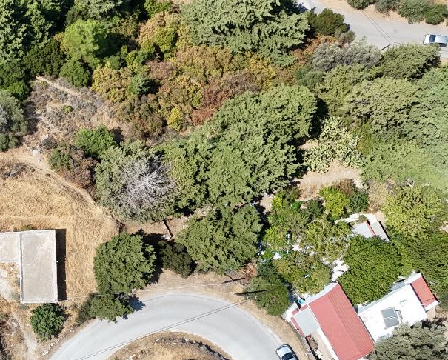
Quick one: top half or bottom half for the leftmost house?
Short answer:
bottom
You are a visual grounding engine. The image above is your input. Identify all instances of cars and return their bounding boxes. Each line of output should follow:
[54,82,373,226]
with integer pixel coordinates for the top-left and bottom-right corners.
[276,344,295,360]
[419,32,448,47]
